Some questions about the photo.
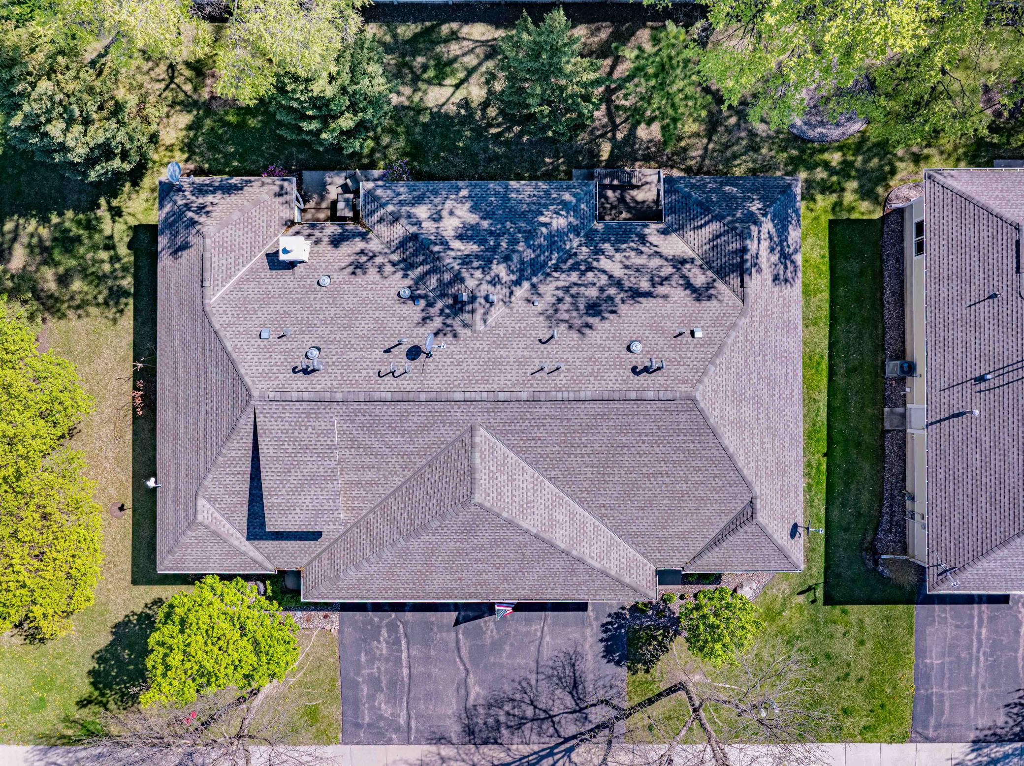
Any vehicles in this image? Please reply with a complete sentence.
No, I can see no vehicle in this picture.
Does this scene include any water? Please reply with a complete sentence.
No, there is no water in the image.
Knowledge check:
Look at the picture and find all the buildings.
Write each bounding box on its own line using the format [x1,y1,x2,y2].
[155,174,804,605]
[880,170,1024,596]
